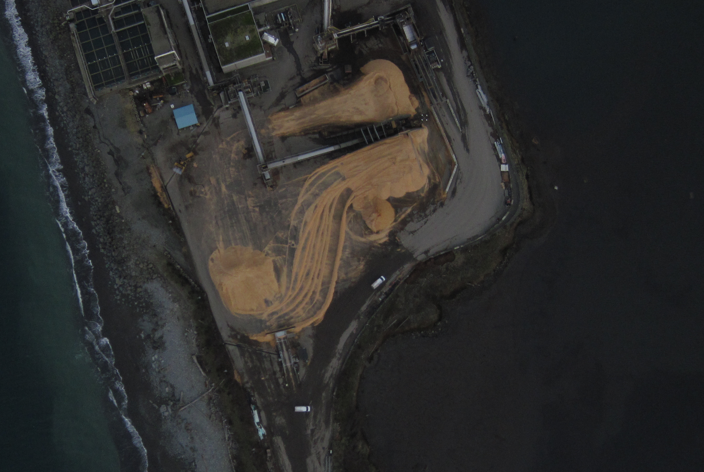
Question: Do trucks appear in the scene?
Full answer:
Yes, a truck can be made out from above.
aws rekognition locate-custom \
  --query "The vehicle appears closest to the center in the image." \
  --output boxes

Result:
[370,275,386,290]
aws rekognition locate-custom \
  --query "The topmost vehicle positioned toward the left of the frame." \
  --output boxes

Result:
[263,33,278,47]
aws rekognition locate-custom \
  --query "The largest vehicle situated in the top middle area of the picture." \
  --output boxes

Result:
[391,7,443,107]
